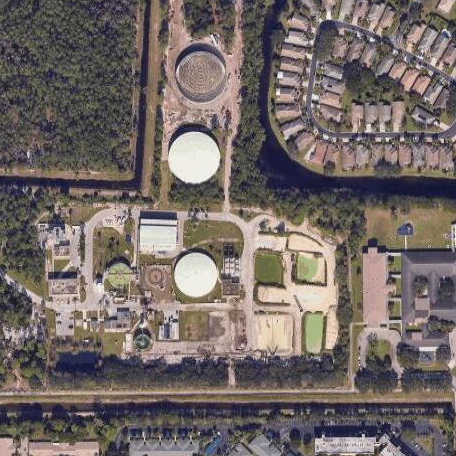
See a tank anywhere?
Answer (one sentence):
Yes, I can see a tank in this picture.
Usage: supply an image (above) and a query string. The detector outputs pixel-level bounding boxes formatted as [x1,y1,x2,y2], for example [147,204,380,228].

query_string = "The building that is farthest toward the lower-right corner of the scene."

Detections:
[375,435,407,456]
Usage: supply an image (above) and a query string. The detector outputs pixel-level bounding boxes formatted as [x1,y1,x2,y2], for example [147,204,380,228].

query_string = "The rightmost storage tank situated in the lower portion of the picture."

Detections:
[174,253,218,297]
